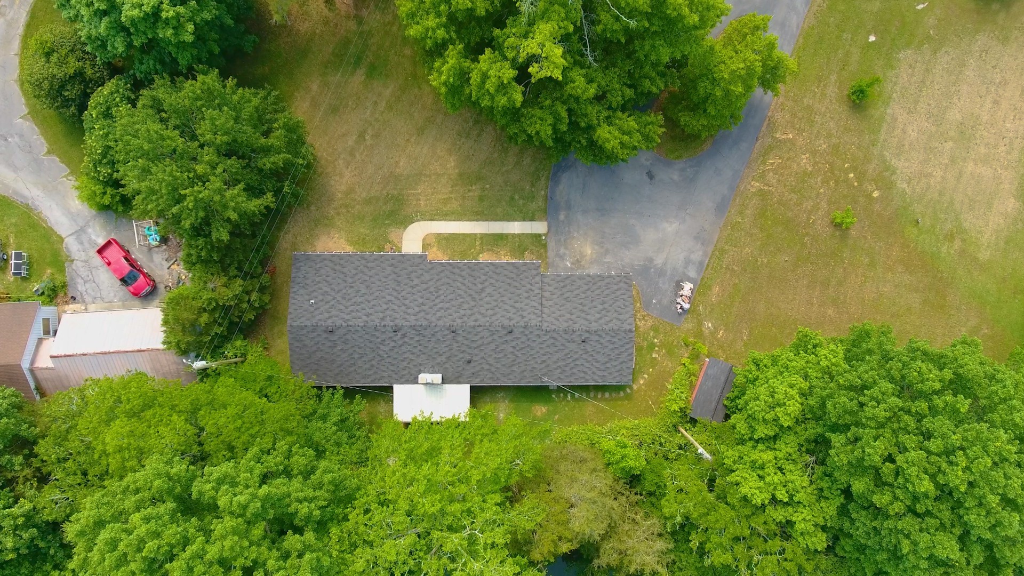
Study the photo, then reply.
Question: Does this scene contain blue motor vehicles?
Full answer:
No, there isn't any blue motor vehicle down there.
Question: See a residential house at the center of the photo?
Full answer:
Yes, I can see a residential house at the center of the photo.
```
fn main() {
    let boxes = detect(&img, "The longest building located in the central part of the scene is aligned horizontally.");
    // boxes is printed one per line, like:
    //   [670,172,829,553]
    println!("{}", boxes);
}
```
[287,251,635,421]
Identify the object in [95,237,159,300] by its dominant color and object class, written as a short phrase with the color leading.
red truck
